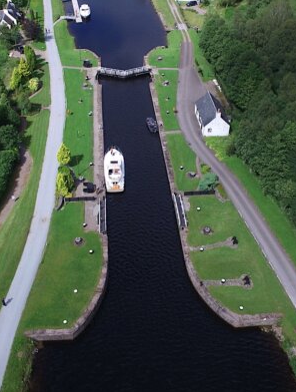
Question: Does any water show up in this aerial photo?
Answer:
Yes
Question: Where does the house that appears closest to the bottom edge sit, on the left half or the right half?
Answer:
right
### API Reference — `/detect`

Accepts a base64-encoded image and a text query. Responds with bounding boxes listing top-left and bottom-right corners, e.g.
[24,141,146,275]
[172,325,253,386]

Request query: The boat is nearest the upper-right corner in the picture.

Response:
[147,116,160,135]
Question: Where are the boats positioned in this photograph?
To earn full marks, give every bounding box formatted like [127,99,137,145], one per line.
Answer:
[80,1,91,19]
[147,116,160,135]
[106,143,127,196]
